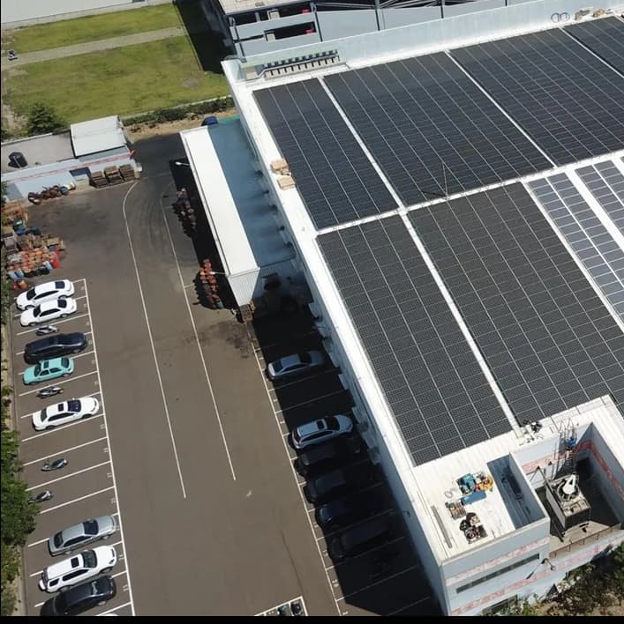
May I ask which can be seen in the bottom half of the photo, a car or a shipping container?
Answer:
car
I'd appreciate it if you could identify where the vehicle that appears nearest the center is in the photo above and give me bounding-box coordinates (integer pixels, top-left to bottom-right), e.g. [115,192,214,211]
[266,350,326,383]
